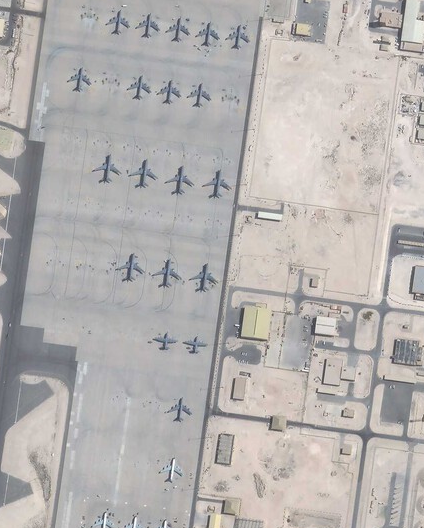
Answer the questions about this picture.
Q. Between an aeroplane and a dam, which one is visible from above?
aeroplane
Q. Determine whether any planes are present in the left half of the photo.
Yes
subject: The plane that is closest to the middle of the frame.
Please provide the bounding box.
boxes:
[190,264,219,292]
